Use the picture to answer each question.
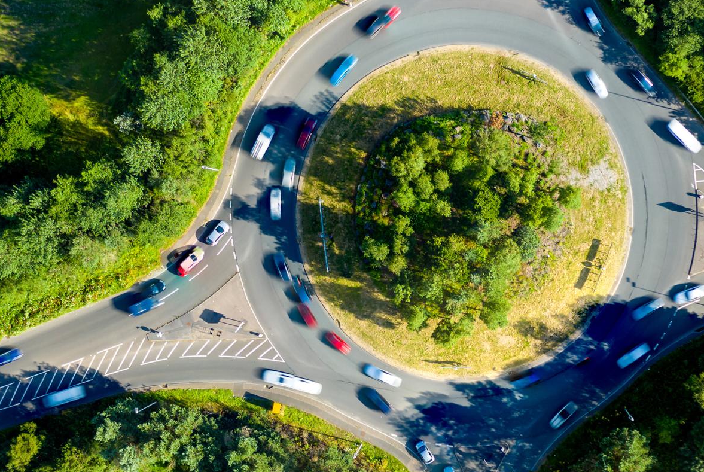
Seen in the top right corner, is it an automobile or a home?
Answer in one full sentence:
You can see an automobile in the top right corner.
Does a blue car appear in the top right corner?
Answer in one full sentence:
Yes, you'll find a blue car in the top right corner.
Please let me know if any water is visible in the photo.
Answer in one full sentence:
No, there's no water in this view.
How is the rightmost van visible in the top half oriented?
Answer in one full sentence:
Seen from above, the rightmost van visible in the top half lies diagonally.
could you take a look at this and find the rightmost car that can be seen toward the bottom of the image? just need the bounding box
[673,283,704,305]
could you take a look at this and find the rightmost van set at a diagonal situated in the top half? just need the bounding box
[667,118,700,154]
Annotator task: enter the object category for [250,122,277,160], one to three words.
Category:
vehicle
